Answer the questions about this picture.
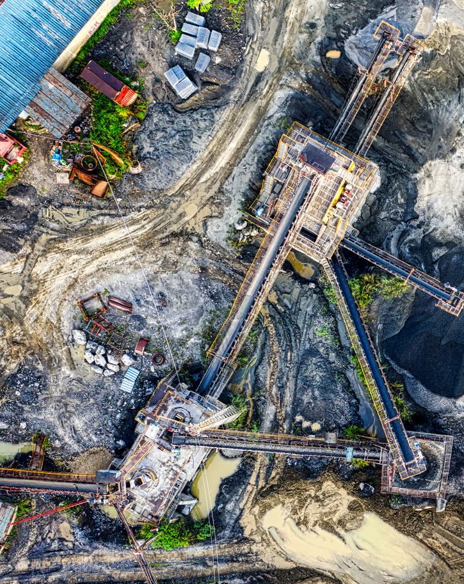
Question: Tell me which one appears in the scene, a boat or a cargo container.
cargo container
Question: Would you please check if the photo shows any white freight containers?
No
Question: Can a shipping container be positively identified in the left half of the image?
Yes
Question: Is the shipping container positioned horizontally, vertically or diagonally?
diagonally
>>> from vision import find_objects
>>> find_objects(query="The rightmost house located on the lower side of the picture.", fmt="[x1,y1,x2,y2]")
[122,368,231,528]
